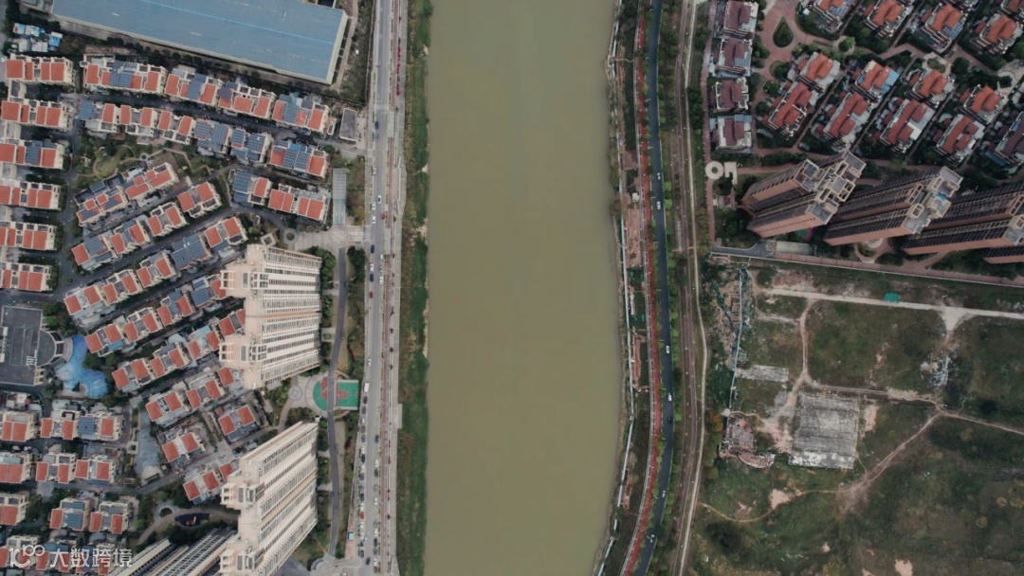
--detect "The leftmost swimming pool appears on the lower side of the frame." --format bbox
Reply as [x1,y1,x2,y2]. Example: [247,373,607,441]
[55,333,109,400]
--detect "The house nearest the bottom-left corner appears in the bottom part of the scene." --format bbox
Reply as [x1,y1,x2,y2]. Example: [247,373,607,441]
[0,531,45,568]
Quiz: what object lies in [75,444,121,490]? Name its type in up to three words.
house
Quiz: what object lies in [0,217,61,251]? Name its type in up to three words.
house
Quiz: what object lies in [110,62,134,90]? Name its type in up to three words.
solar panel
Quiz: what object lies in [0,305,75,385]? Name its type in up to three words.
building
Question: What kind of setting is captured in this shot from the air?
residential area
